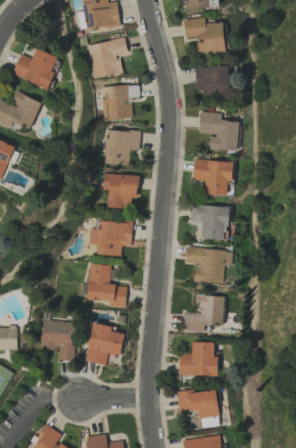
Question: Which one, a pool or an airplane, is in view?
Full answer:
The one in the frame is a pool.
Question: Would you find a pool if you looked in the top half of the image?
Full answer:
Yes, a pool appears in the top half of the image.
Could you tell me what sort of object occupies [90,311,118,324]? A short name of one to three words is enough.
swimming pool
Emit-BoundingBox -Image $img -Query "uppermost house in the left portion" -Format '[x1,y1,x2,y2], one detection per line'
[76,0,122,28]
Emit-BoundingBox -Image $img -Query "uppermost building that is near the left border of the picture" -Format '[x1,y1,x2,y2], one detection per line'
[14,49,57,88]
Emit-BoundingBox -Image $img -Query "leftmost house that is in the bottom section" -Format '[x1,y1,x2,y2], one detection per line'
[0,326,18,350]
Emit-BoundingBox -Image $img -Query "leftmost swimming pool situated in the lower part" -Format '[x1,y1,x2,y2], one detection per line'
[0,290,30,327]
